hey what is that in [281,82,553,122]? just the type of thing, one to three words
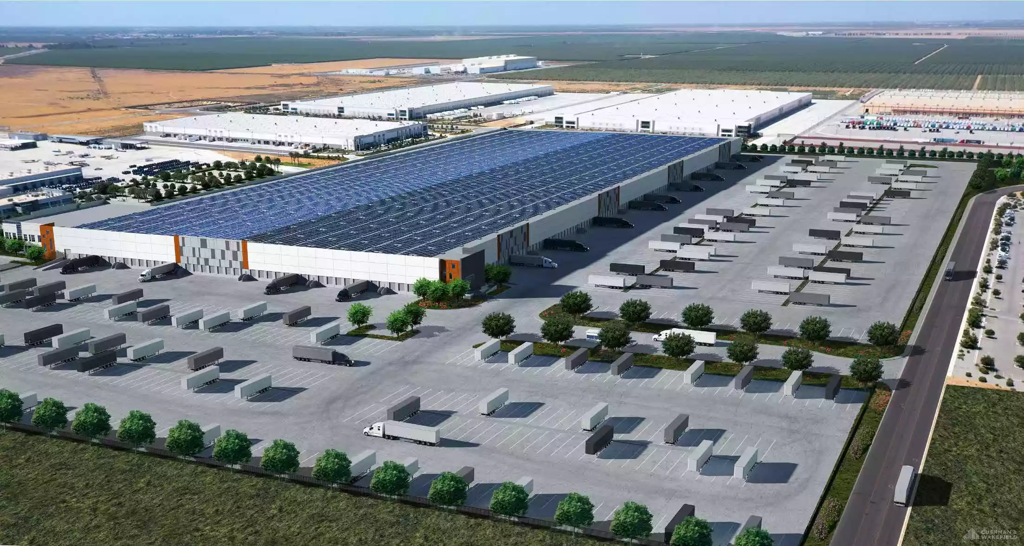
building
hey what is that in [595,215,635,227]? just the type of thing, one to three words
vehicle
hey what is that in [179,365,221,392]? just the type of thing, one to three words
trailer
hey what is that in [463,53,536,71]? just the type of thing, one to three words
building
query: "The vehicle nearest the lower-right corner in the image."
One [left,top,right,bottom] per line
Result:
[893,460,917,505]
